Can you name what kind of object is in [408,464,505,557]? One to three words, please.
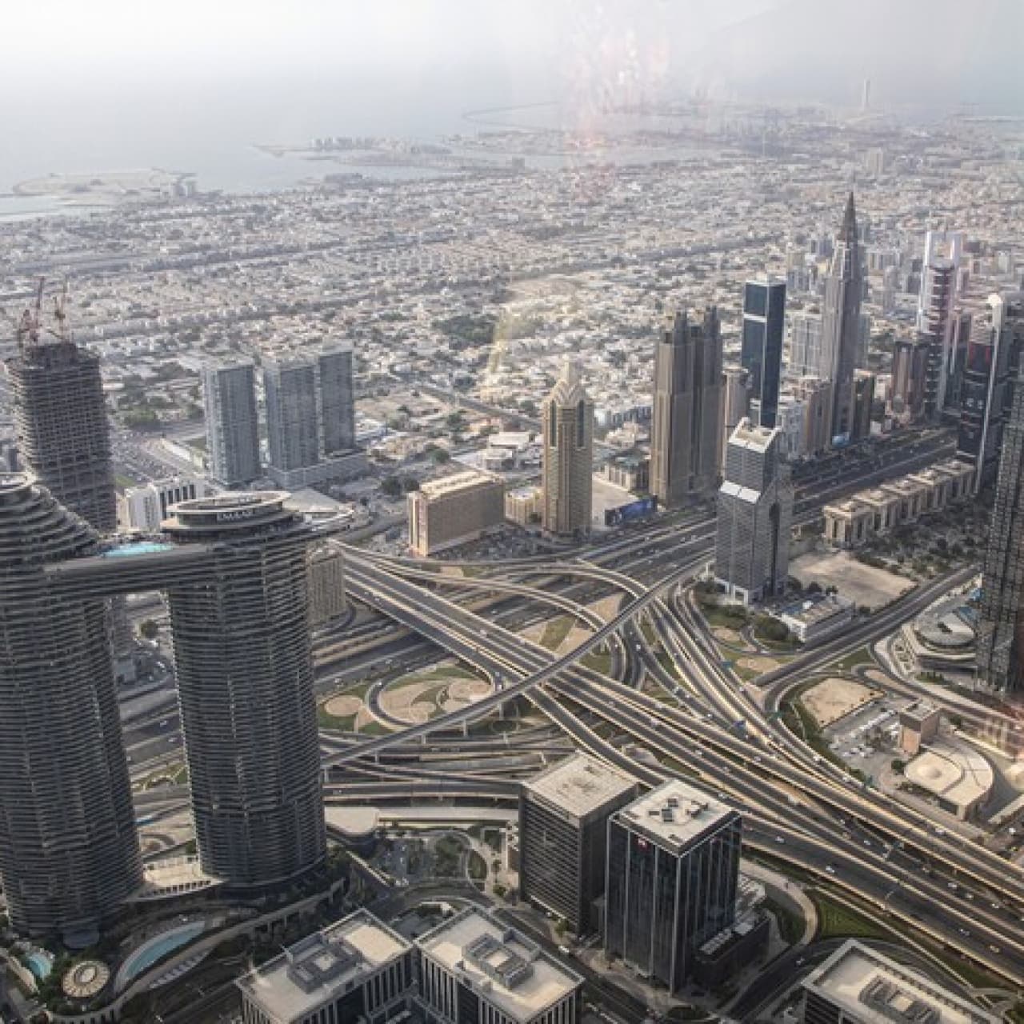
building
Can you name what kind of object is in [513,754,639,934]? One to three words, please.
building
